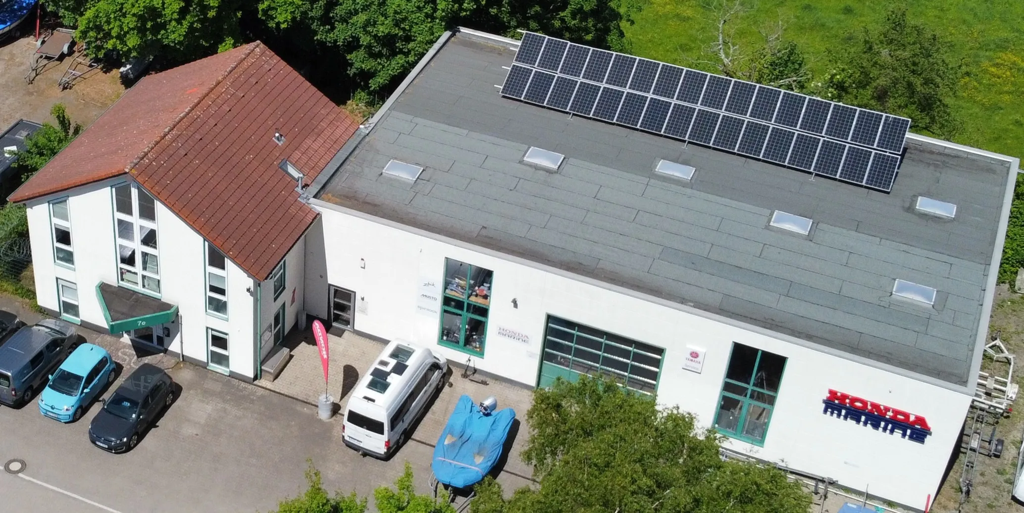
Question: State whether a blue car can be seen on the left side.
Yes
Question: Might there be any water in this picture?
No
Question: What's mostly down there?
buildings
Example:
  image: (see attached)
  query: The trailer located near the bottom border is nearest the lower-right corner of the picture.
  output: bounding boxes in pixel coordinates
[951,401,1011,499]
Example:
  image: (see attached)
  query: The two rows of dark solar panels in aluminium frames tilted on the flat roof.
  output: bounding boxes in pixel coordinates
[489,34,910,196]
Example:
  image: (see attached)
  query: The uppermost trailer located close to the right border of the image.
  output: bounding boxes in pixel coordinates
[966,326,1024,428]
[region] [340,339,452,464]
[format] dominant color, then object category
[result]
white van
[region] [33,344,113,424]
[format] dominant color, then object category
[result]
blue car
